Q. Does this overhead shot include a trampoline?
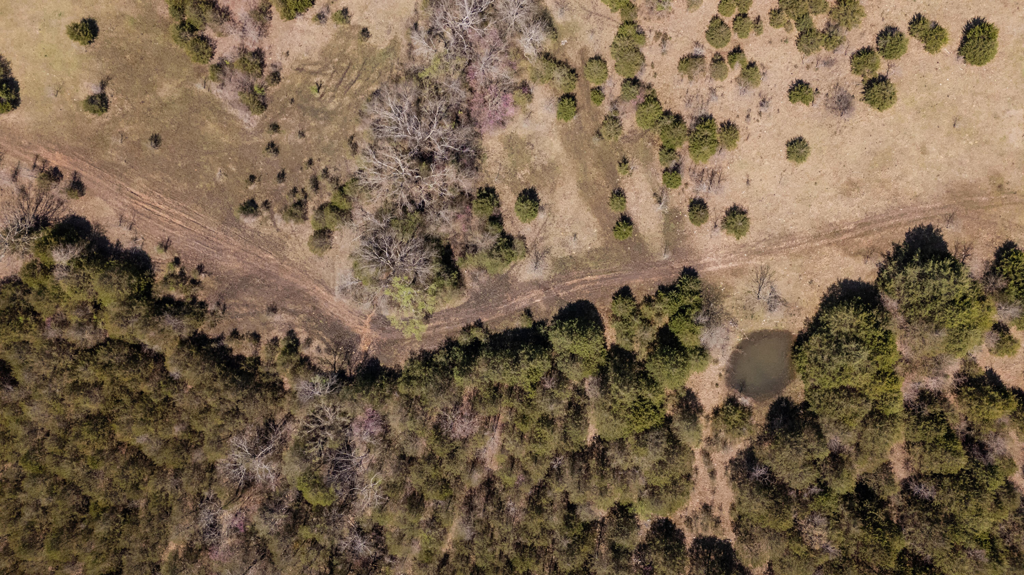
No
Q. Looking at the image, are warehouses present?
No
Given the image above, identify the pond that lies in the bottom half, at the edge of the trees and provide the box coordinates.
[722,328,800,405]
